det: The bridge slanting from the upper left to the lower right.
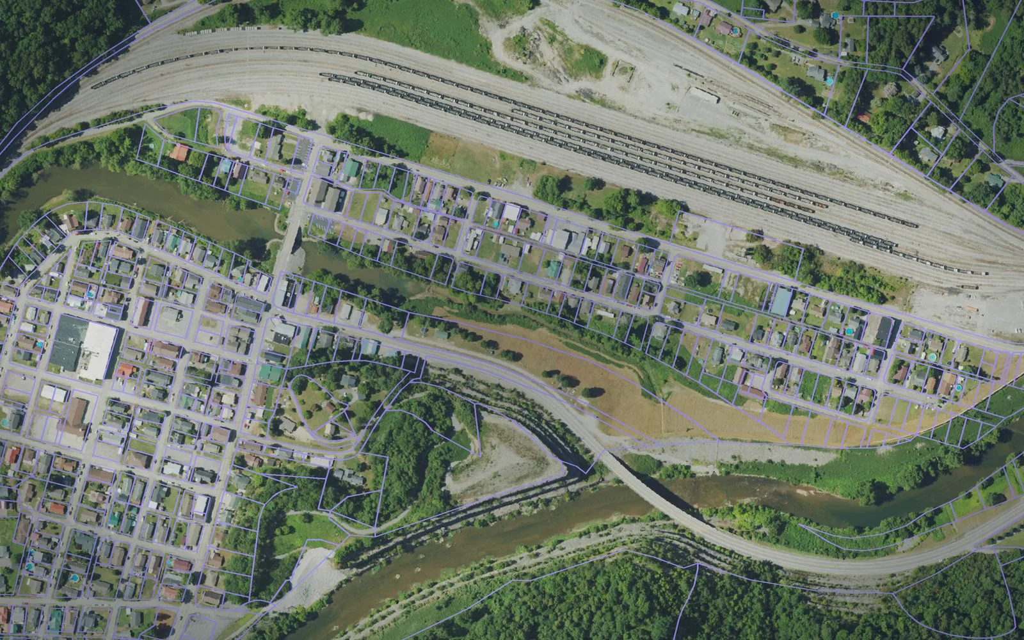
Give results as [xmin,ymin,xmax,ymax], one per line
[609,447,714,536]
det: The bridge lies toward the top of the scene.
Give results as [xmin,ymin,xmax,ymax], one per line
[277,206,300,265]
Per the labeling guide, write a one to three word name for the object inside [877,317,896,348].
building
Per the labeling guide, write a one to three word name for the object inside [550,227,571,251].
building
